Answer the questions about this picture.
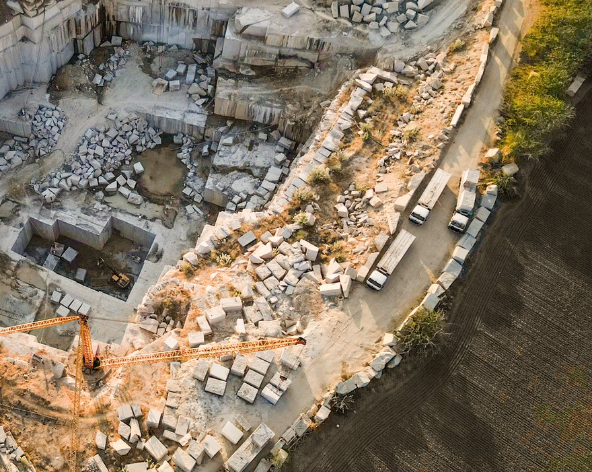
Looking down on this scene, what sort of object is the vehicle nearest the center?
truck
